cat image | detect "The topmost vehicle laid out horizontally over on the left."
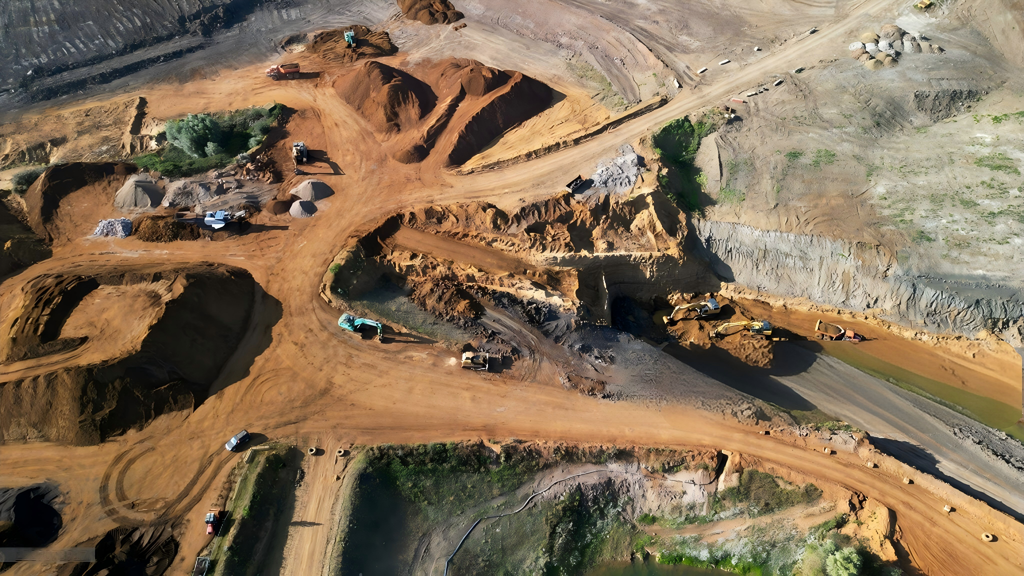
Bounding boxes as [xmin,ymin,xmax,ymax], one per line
[267,64,298,78]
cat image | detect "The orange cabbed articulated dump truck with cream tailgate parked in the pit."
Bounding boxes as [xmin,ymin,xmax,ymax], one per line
[817,323,864,344]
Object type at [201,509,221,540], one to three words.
work vehicle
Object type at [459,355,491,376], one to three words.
work vehicle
